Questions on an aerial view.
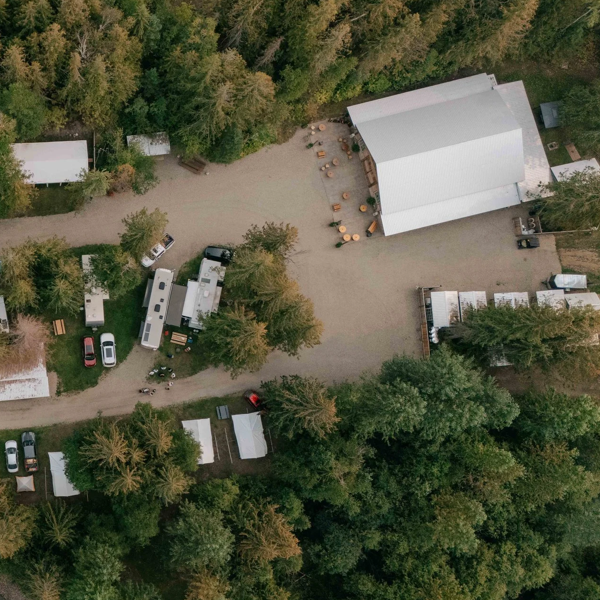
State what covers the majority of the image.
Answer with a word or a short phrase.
trees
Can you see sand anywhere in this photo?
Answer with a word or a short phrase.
No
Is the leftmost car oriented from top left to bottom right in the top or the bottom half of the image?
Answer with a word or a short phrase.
bottom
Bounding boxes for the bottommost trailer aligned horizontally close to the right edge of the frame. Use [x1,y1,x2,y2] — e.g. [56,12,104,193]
[539,273,586,290]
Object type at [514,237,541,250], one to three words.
vehicle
